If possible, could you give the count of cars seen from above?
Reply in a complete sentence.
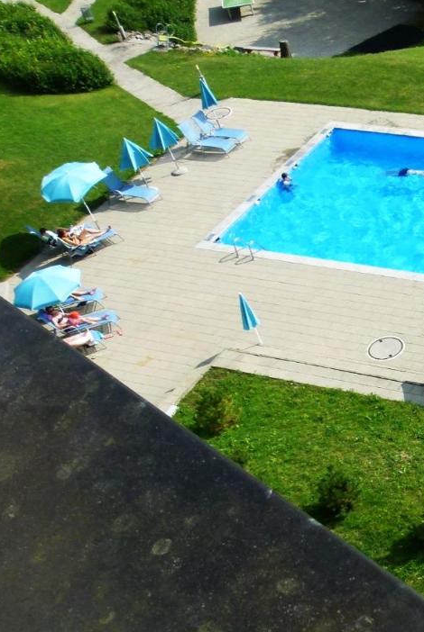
I count no cars.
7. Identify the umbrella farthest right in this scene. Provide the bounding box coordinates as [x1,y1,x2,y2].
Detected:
[240,293,262,343]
